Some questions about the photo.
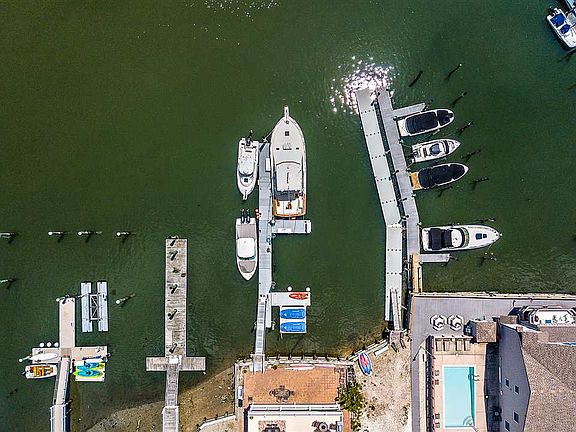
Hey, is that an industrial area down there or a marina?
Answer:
marina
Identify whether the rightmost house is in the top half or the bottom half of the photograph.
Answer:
bottom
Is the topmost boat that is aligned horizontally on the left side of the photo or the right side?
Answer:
right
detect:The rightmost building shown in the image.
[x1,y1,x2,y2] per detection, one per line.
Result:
[490,303,576,432]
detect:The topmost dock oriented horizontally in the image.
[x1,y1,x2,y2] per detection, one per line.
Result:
[272,292,310,305]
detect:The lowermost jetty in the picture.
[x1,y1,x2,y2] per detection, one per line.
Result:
[47,400,75,432]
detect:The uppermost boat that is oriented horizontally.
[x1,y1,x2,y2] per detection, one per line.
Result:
[394,111,454,137]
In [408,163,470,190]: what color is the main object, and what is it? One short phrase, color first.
black boat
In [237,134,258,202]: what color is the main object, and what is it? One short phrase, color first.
white boat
